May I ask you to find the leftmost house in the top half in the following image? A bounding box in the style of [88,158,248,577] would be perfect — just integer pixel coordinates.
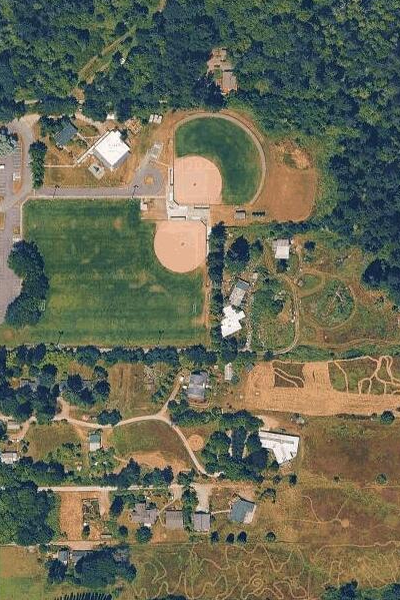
[53,120,80,149]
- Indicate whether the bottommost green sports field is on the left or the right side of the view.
left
